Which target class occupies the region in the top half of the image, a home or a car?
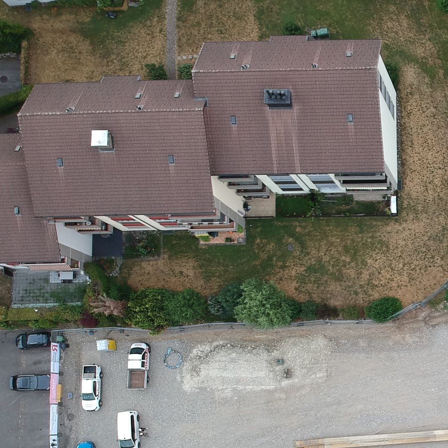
home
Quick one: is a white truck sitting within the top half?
No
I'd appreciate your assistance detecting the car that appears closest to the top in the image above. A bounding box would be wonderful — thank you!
[14,331,53,351]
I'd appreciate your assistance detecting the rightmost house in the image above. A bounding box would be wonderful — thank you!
[189,36,394,193]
